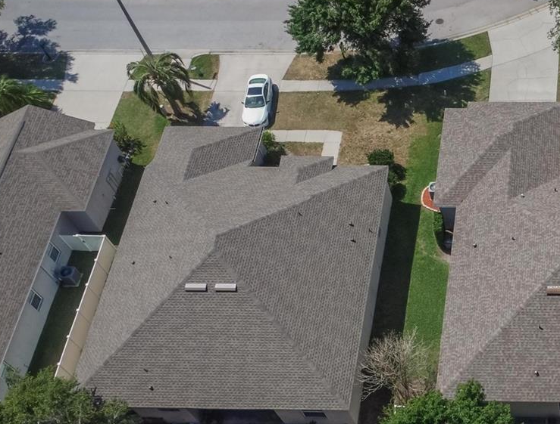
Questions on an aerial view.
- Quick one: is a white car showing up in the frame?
Yes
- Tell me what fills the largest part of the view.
buildings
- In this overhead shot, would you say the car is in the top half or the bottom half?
top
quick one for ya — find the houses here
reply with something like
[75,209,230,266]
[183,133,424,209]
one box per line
[0,106,127,416]
[433,102,560,416]
[66,125,391,423]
